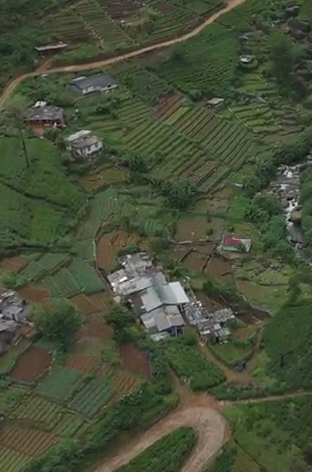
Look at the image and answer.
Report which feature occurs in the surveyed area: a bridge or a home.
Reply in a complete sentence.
The image shows a home.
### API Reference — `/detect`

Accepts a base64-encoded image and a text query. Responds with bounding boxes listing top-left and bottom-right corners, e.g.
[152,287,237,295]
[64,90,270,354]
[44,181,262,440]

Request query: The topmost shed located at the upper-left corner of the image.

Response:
[36,41,69,60]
